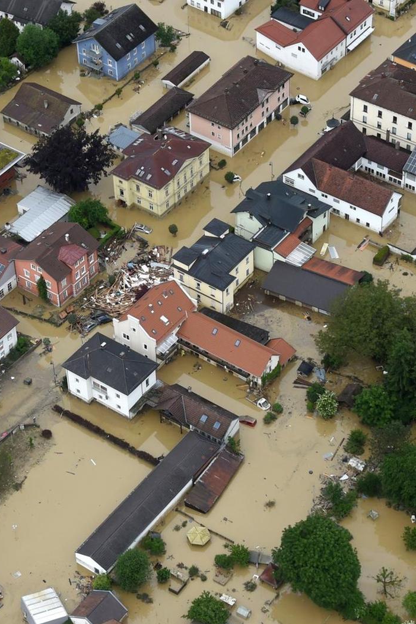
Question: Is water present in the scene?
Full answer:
Yes, there's water in this view.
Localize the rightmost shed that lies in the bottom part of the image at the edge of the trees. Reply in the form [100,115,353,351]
[337,381,364,410]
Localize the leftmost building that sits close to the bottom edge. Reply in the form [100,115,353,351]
[21,587,67,624]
